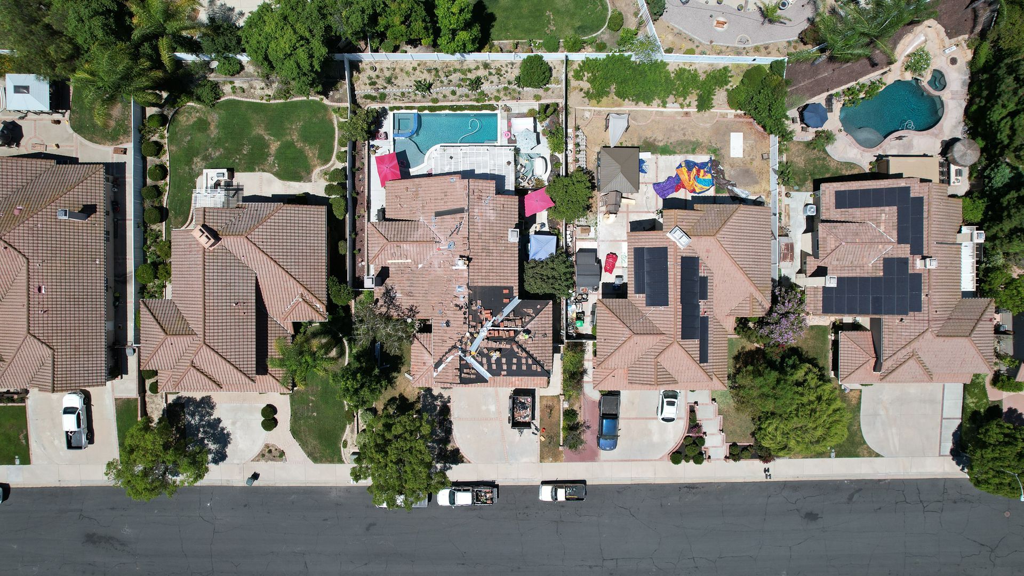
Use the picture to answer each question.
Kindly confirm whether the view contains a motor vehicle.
Yes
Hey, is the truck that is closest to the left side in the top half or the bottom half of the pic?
bottom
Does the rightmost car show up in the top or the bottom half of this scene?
bottom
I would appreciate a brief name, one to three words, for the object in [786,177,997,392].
house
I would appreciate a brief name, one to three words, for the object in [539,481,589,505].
truck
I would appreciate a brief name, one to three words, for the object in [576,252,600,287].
shed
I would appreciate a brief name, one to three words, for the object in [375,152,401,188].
umbrella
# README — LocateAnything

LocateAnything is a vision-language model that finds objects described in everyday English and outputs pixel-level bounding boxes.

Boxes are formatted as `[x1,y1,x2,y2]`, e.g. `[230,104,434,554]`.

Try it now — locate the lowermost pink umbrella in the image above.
[525,188,553,216]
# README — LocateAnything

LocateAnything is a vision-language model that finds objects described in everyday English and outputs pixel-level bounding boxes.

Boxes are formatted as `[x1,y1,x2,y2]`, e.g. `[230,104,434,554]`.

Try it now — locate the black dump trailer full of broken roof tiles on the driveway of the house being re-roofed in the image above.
[507,393,537,445]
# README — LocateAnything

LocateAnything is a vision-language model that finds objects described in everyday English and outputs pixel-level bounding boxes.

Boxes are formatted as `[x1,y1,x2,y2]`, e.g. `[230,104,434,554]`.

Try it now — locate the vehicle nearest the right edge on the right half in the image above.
[659,390,682,423]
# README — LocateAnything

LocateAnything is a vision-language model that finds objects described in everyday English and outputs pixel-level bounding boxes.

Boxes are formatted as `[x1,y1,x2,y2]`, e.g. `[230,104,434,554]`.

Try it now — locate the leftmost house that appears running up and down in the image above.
[0,156,120,402]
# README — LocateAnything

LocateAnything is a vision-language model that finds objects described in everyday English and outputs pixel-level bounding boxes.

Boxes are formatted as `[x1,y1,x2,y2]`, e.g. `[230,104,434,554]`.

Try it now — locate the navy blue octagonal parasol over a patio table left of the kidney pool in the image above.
[799,103,827,128]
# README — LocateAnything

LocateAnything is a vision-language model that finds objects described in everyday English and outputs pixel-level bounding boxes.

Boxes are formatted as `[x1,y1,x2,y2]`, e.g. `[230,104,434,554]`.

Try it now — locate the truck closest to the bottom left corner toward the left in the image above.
[56,392,89,453]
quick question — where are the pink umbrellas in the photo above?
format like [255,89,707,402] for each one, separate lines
[375,152,401,188]
[525,188,553,216]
